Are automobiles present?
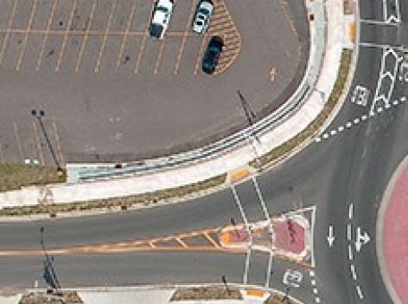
Yes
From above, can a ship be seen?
No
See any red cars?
No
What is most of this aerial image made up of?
paved ground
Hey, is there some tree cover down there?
No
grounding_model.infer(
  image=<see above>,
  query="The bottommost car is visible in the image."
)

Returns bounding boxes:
[202,37,223,72]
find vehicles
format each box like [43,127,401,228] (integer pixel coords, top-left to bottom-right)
[202,37,223,72]
[149,0,174,39]
[191,0,214,35]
